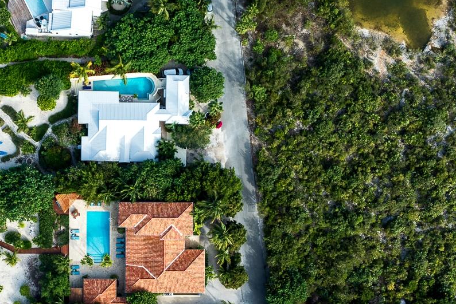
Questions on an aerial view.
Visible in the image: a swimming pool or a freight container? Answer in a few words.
swimming pool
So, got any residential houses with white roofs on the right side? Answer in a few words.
No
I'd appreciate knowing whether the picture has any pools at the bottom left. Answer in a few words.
Yes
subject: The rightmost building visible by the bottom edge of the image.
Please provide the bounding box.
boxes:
[118,201,205,296]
